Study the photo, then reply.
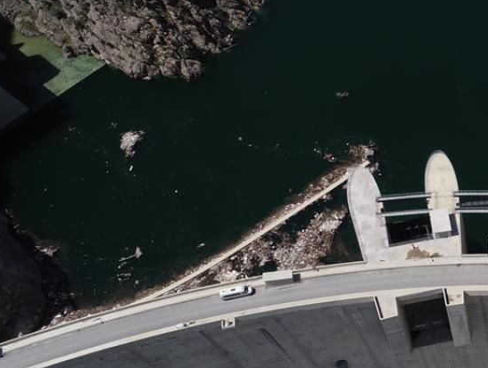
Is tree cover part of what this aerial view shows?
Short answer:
No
